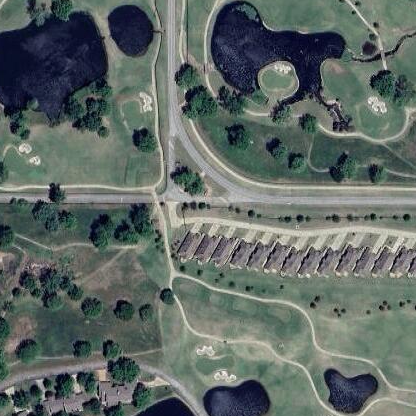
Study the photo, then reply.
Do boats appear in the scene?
No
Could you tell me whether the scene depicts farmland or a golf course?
golf course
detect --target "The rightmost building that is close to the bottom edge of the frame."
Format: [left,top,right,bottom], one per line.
[100,382,136,405]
